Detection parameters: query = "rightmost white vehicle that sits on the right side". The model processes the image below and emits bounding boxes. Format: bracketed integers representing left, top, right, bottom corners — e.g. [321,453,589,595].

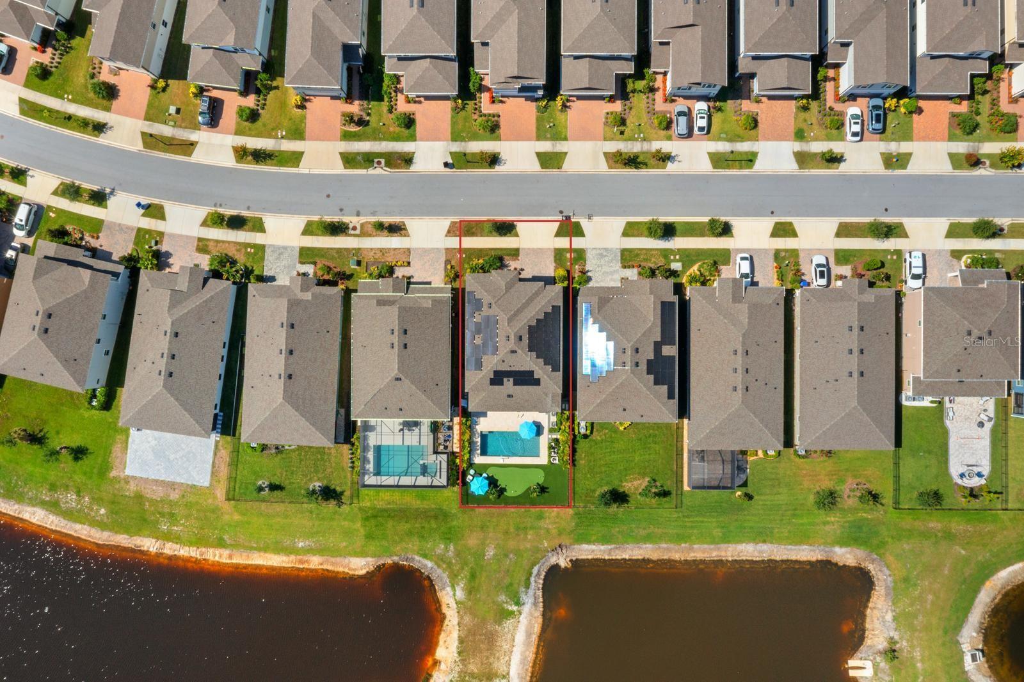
[905,251,925,289]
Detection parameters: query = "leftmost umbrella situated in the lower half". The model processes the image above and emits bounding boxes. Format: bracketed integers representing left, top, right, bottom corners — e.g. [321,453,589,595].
[470,475,489,494]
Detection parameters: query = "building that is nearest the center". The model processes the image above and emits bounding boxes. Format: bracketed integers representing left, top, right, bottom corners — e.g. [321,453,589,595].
[466,270,563,412]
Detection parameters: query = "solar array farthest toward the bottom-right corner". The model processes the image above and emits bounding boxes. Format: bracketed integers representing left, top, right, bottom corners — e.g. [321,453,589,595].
[647,301,676,399]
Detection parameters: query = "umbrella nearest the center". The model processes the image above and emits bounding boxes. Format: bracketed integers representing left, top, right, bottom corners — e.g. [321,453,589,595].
[519,420,537,438]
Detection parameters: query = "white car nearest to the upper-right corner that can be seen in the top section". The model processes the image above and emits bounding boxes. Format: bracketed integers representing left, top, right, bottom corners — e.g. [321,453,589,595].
[845,107,863,143]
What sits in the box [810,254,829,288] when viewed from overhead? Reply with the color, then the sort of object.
white car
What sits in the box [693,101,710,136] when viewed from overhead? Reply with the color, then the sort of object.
white car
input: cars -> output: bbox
[866,99,885,134]
[735,253,752,287]
[197,93,216,127]
[14,201,39,239]
[0,40,13,76]
[693,101,710,136]
[674,103,691,138]
[845,107,863,143]
[810,254,829,288]
[905,251,925,289]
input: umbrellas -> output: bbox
[470,475,489,494]
[519,420,537,438]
